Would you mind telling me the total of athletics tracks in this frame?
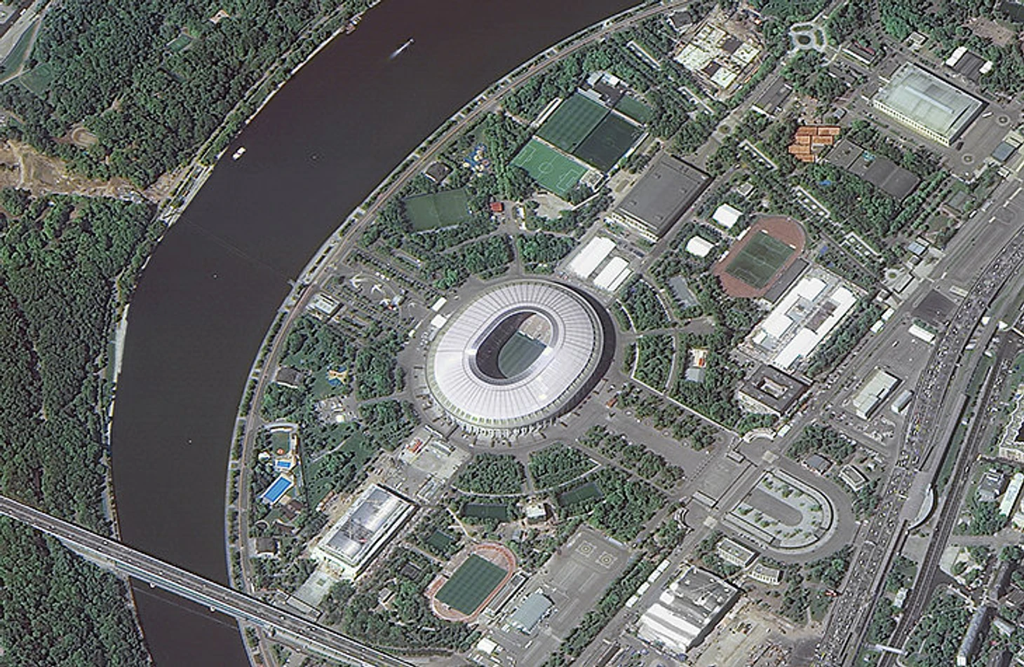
2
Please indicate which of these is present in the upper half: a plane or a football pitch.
football pitch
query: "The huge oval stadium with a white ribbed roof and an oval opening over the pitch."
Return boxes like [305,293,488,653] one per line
[421,278,607,443]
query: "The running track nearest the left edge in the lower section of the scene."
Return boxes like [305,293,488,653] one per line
[427,542,516,625]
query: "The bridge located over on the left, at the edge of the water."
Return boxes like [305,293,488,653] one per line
[0,496,418,667]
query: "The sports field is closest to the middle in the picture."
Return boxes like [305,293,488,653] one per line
[482,333,544,379]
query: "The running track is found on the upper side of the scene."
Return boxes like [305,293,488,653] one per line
[716,217,807,299]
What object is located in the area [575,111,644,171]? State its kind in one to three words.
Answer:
soccer field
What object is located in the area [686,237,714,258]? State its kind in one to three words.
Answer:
tent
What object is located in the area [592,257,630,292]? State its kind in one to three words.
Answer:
hangar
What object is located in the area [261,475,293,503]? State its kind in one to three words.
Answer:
swimming pool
